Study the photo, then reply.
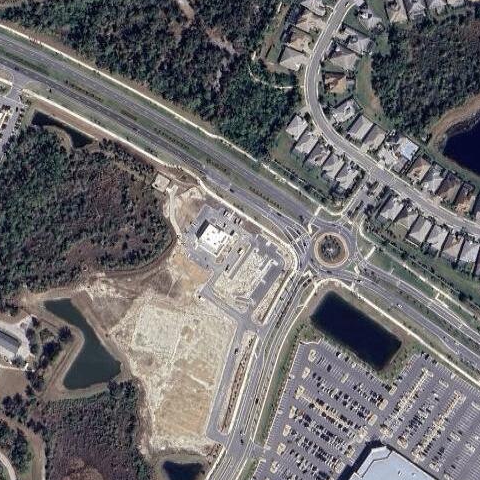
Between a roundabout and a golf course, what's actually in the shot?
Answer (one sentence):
The image shows a roundabout.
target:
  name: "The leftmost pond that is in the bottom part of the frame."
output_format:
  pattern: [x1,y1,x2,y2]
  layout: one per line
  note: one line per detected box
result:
[47,299,121,389]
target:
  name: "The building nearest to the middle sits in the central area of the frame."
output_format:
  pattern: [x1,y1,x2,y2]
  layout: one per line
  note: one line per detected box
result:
[195,225,234,259]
